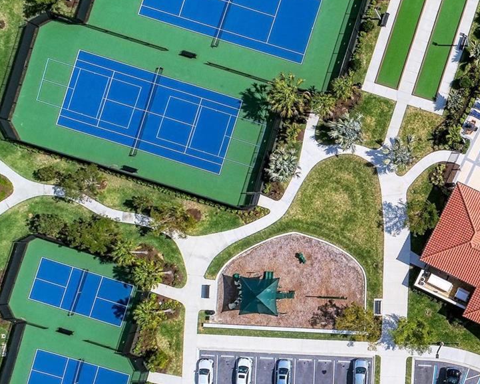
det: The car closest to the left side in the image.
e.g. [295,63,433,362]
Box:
[196,357,214,384]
